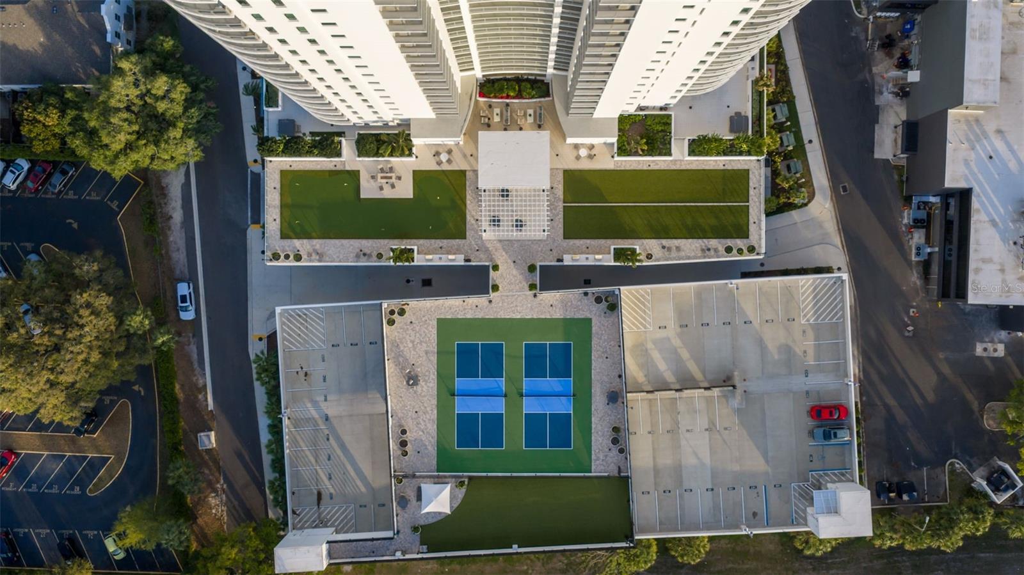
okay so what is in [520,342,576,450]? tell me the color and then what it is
blue sports court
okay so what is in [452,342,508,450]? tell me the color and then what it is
blue sports court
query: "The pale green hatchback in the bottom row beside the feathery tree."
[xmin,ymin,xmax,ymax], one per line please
[103,530,129,563]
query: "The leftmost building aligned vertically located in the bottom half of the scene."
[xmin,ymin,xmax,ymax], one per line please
[276,299,394,536]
